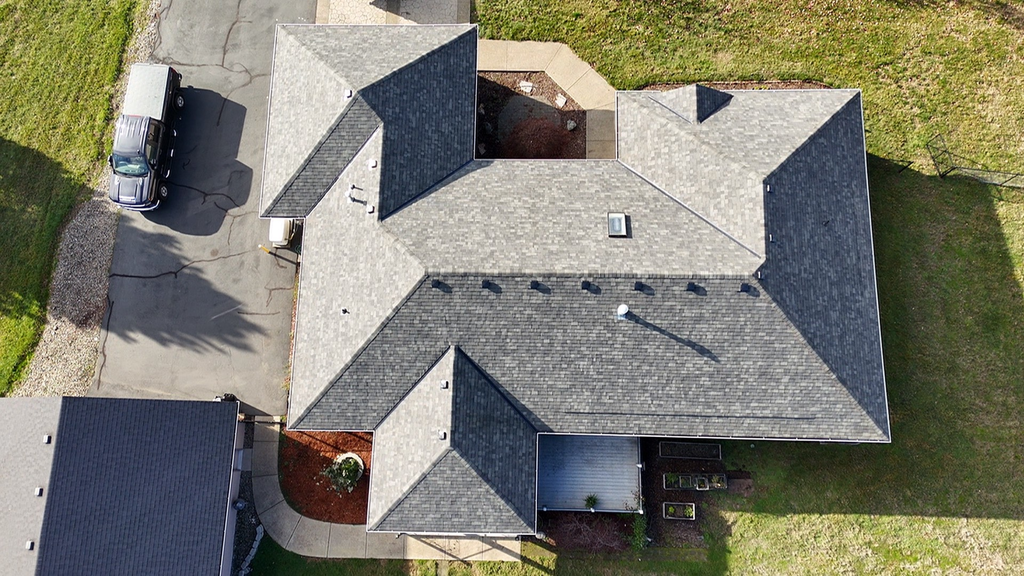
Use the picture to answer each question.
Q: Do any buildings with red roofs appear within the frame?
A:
No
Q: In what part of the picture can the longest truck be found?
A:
top left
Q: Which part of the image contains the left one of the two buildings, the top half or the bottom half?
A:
bottom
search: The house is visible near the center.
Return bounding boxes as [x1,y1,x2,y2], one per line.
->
[257,24,891,540]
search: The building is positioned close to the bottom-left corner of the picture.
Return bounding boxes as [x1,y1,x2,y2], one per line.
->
[0,395,245,576]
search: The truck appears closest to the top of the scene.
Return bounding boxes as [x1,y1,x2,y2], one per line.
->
[104,61,183,210]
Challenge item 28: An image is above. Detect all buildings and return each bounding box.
[0,395,245,576]
[257,24,891,540]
